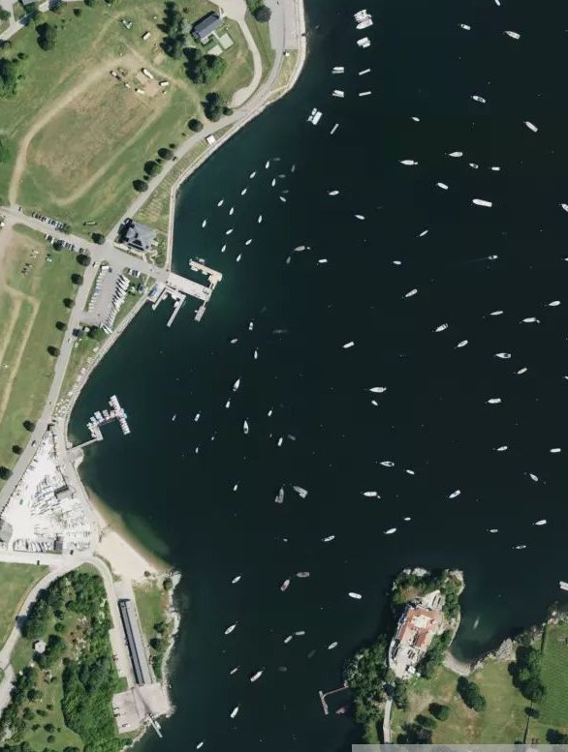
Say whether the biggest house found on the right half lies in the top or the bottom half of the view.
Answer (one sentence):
The biggest house found on the right half sits in the bottom half of the picture.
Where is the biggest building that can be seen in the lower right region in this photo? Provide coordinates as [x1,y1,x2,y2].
[396,607,442,649]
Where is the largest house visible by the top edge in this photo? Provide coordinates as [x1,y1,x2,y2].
[194,12,224,47]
